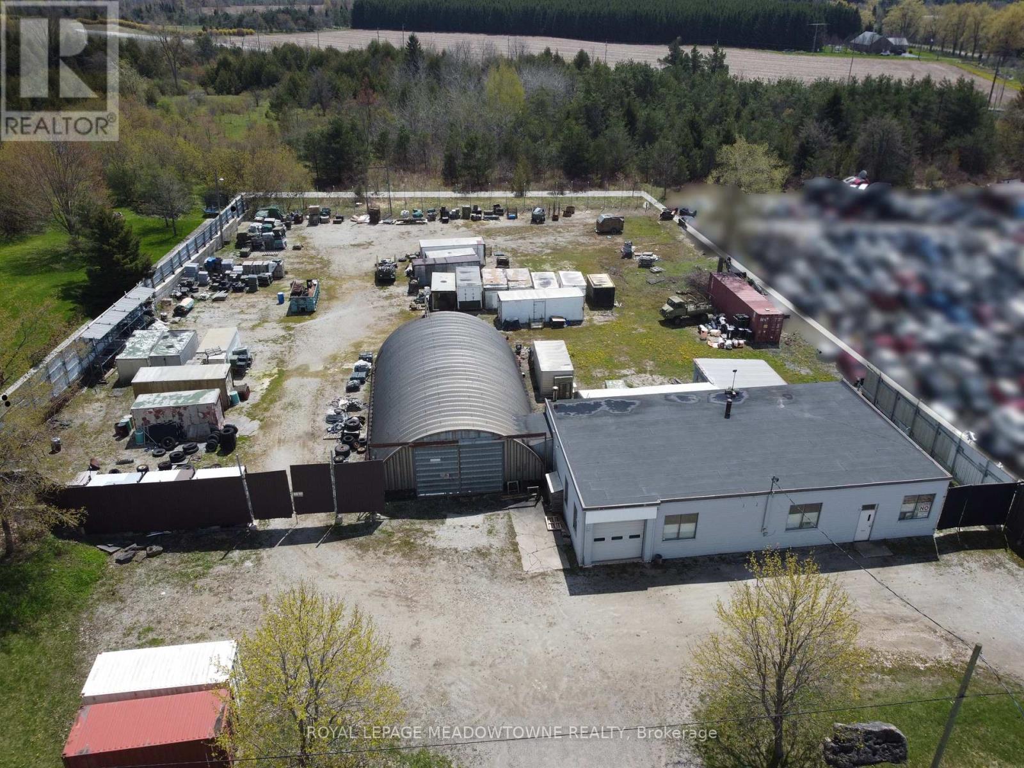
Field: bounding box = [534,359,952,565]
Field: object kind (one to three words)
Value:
building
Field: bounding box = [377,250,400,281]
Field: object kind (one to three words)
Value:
truck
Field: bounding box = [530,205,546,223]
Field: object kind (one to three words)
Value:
vehicle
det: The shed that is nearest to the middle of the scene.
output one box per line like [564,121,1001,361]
[362,309,549,500]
